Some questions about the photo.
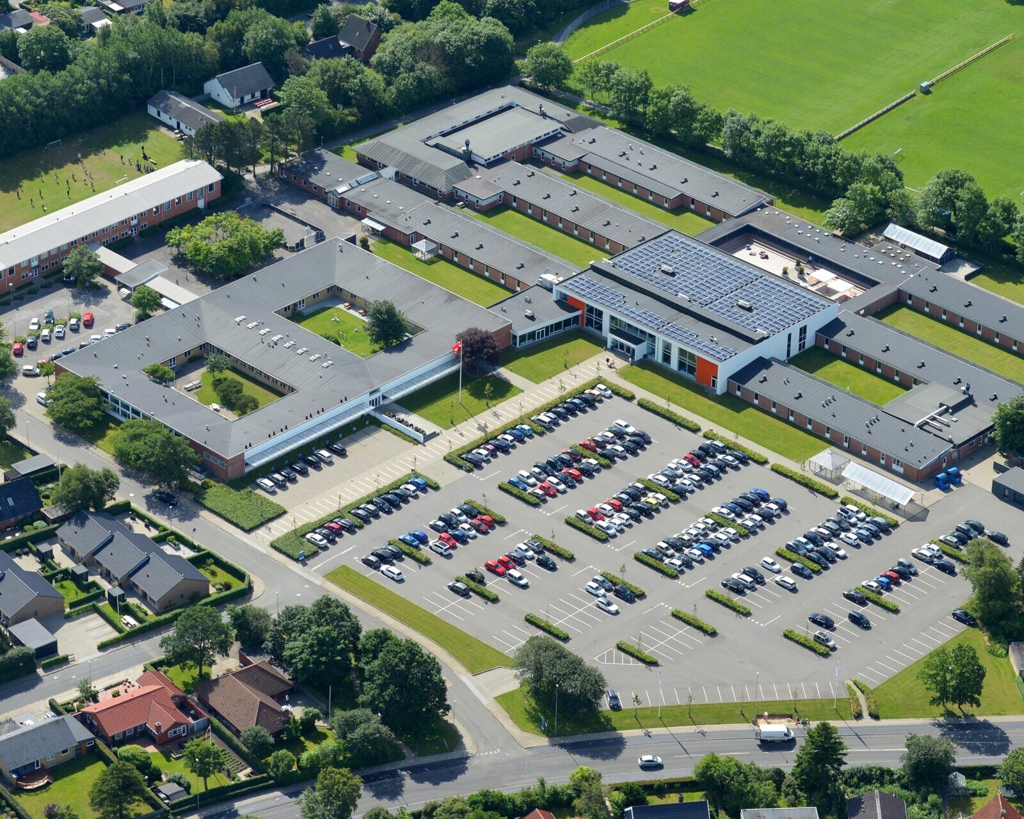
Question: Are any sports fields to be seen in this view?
Yes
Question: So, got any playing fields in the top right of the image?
Yes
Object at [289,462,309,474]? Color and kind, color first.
black vehicle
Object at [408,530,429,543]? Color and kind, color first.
blue vehicle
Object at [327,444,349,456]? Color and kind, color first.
black vehicle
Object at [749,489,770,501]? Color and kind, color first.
blue vehicle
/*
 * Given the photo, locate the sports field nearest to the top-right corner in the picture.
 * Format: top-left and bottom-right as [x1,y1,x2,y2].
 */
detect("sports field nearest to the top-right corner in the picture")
[556,0,1024,226]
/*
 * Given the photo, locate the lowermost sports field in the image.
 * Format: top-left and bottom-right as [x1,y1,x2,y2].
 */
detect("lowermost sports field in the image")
[0,116,189,235]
